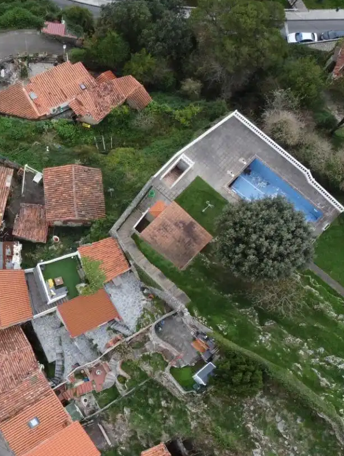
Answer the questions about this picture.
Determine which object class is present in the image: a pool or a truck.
pool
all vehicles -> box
[319,27,344,42]
[285,31,318,43]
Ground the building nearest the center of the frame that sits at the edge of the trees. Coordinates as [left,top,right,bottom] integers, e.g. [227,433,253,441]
[139,201,213,271]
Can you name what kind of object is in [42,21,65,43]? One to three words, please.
shed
